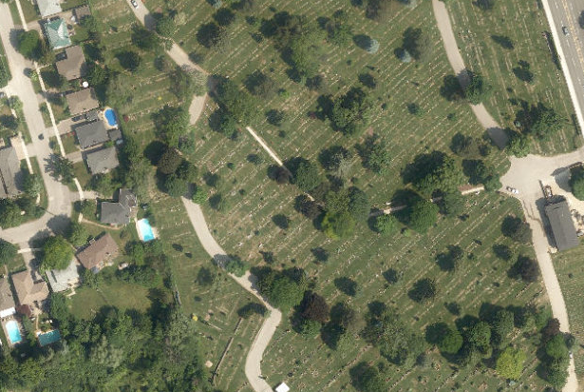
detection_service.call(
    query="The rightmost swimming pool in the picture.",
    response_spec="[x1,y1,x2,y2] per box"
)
[137,217,156,242]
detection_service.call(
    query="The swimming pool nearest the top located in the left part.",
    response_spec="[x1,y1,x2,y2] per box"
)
[105,108,117,127]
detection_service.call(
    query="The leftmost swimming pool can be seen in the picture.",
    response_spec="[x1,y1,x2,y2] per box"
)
[7,320,22,344]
